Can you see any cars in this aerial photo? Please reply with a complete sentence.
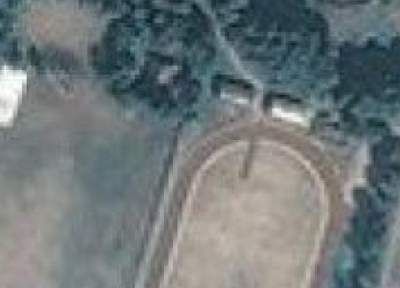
No, this view has no car in it.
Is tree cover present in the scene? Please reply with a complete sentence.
Yes, the picture does contain tree cover.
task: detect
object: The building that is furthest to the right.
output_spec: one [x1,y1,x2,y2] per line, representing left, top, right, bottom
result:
[270,91,317,125]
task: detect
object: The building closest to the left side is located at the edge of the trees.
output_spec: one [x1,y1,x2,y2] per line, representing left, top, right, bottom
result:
[0,68,29,127]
